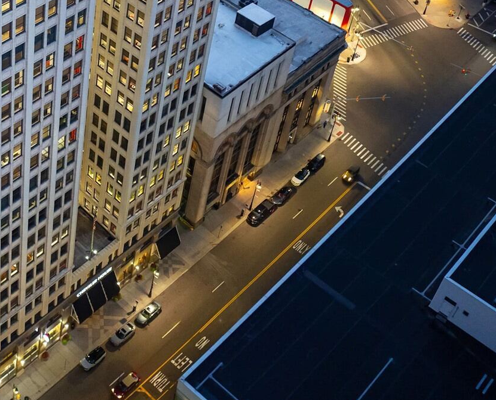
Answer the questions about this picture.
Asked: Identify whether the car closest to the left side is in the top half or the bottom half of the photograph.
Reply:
bottom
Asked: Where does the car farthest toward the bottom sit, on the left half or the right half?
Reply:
left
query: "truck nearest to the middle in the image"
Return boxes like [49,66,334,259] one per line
[250,201,275,225]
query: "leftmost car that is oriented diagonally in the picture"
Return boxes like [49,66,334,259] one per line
[79,346,107,372]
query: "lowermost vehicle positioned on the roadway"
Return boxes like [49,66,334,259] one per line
[111,370,139,398]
